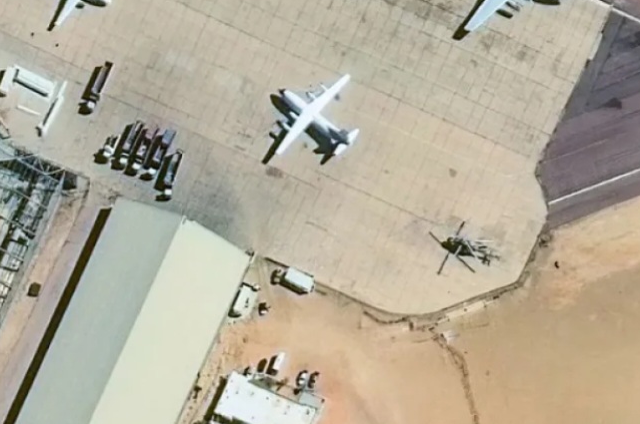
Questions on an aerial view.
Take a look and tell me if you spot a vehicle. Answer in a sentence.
Yes, there is a vehicle in the image.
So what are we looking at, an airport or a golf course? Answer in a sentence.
This image shows an airport.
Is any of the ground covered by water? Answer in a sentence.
No, no water is visible.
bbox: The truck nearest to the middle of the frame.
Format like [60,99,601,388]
[278,269,313,293]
